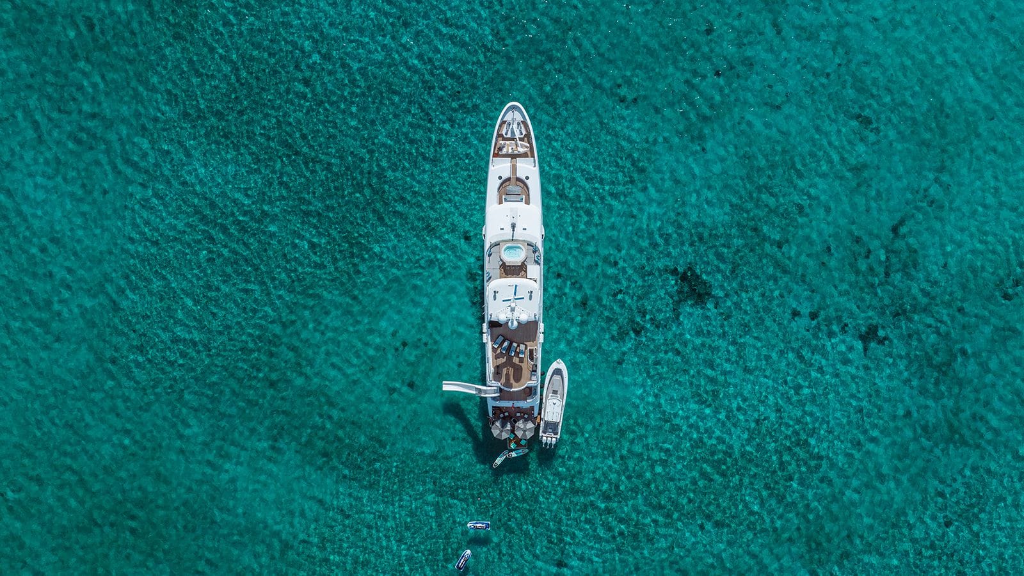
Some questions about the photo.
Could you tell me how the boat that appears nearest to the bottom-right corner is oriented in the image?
from top to bottom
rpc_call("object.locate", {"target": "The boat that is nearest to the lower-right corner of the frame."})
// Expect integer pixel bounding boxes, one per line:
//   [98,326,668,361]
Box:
[538,360,568,451]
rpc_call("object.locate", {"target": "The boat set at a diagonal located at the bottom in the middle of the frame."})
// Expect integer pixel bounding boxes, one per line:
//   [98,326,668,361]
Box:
[454,552,469,572]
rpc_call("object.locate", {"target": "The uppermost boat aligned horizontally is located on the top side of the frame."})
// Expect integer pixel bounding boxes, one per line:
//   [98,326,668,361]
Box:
[496,140,529,153]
